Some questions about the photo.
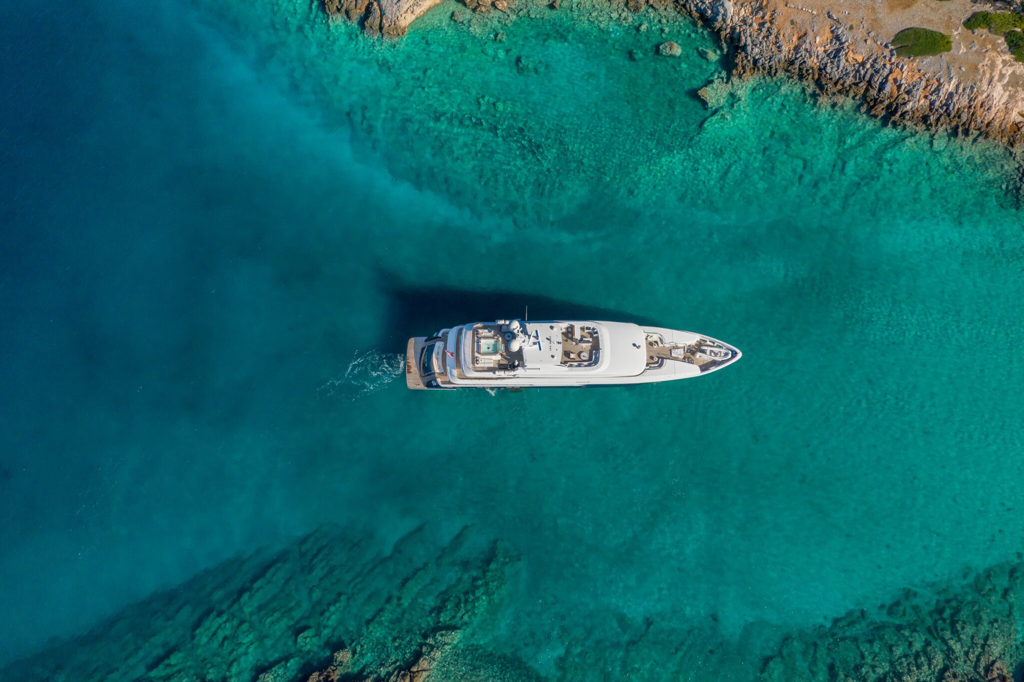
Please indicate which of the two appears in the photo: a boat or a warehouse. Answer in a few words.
boat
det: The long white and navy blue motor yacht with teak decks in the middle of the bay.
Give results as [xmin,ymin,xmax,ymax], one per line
[406,316,743,393]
